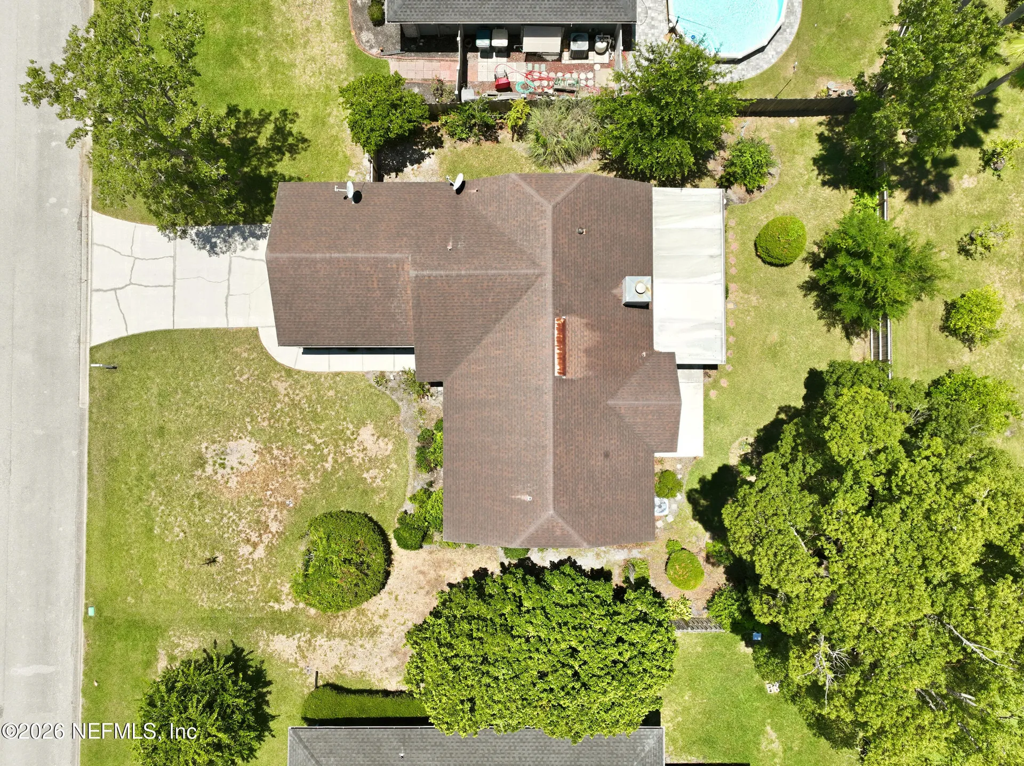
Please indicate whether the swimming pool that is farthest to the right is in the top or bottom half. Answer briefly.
top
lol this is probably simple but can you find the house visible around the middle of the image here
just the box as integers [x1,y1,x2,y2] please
[264,171,683,550]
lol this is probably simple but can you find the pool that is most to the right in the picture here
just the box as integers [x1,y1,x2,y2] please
[663,0,786,60]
